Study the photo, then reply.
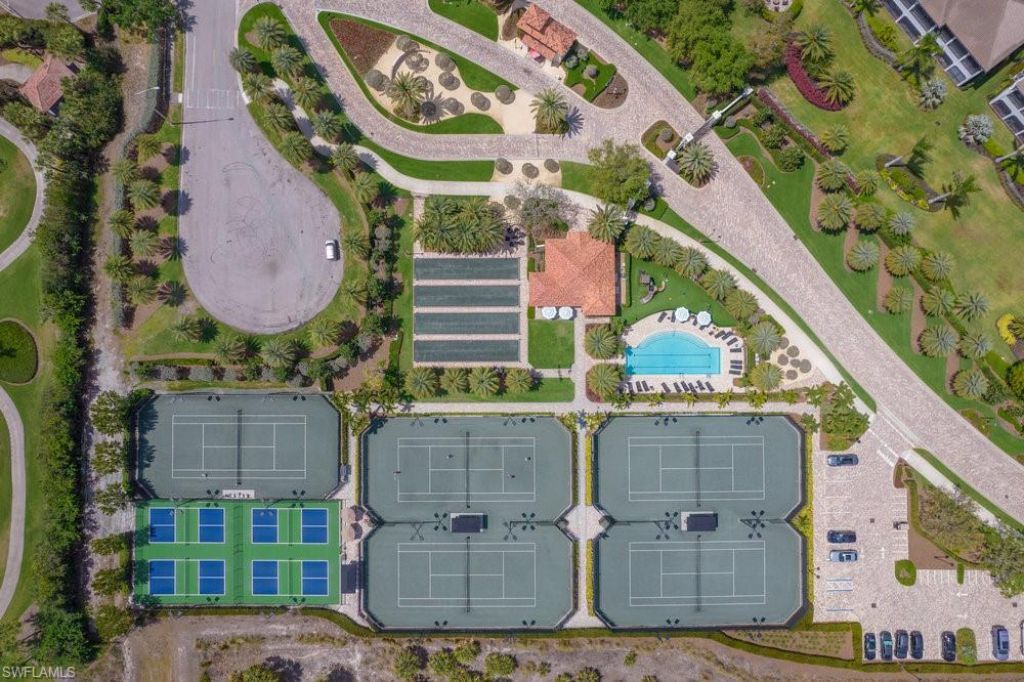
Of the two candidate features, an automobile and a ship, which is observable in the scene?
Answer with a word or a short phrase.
automobile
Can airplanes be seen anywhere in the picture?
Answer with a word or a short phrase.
No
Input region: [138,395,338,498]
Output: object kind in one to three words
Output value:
tennis court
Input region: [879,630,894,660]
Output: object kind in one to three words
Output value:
car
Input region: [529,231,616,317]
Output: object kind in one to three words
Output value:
building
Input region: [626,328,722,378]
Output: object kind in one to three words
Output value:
swimming pool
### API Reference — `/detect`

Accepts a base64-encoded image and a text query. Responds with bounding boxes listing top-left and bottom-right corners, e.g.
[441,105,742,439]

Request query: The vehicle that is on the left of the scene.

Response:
[323,240,336,261]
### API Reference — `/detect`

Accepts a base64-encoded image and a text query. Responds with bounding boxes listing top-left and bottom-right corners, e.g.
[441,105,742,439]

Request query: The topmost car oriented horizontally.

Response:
[827,454,858,467]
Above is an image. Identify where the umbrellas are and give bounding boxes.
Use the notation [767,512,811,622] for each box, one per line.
[558,306,573,321]
[339,524,355,540]
[339,505,355,521]
[674,307,689,322]
[696,311,711,326]
[529,51,539,61]
[541,306,557,321]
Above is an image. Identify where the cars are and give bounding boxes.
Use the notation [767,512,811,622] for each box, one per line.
[323,240,336,261]
[863,632,877,660]
[827,530,857,544]
[941,631,957,661]
[894,629,910,659]
[829,550,858,563]
[991,626,1010,661]
[909,630,925,660]
[827,454,858,467]
[879,630,894,660]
